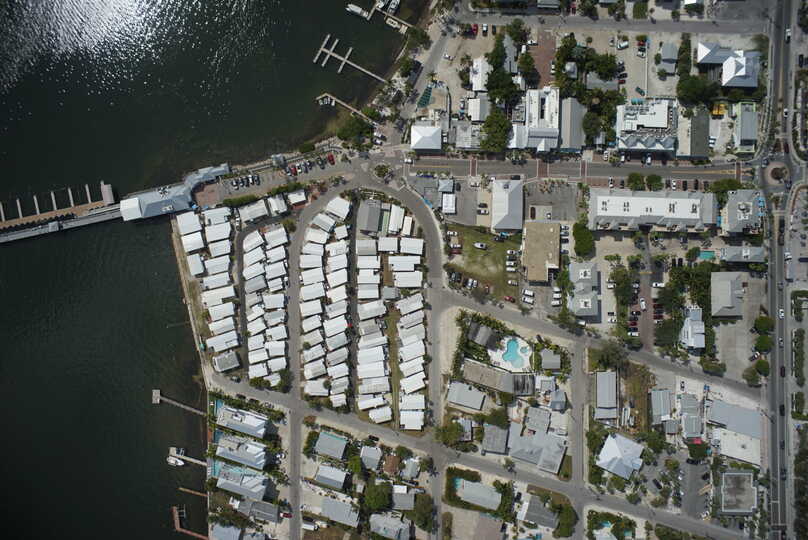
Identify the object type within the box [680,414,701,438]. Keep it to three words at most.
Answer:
house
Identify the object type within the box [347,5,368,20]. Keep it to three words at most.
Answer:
boat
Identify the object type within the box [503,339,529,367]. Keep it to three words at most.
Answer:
swimming pool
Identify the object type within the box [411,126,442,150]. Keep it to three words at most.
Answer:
building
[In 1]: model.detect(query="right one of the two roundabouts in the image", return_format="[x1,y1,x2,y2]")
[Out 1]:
[756,151,800,194]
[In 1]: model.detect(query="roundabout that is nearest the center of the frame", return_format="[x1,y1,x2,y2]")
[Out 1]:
[361,150,403,192]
